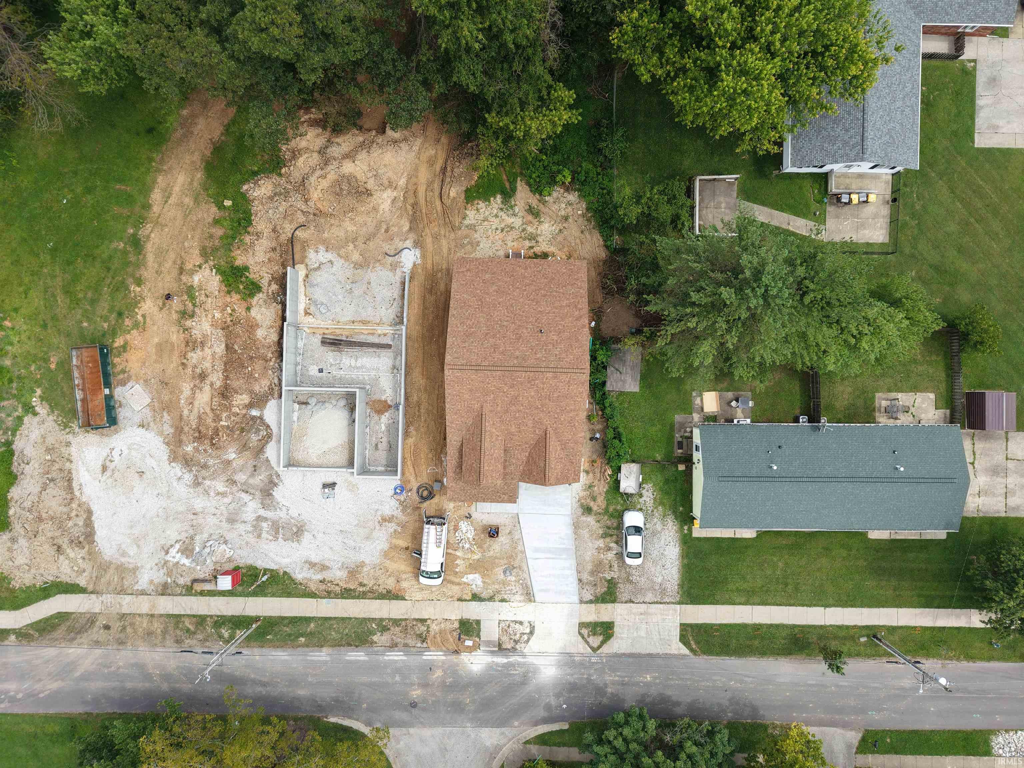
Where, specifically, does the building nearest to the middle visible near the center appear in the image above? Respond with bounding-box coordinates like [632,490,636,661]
[444,248,589,504]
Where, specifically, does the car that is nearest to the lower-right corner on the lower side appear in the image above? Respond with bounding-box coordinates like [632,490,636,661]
[621,508,647,566]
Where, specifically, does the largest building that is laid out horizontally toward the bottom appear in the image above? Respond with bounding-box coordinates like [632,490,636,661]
[687,422,971,533]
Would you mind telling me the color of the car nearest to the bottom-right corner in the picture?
white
